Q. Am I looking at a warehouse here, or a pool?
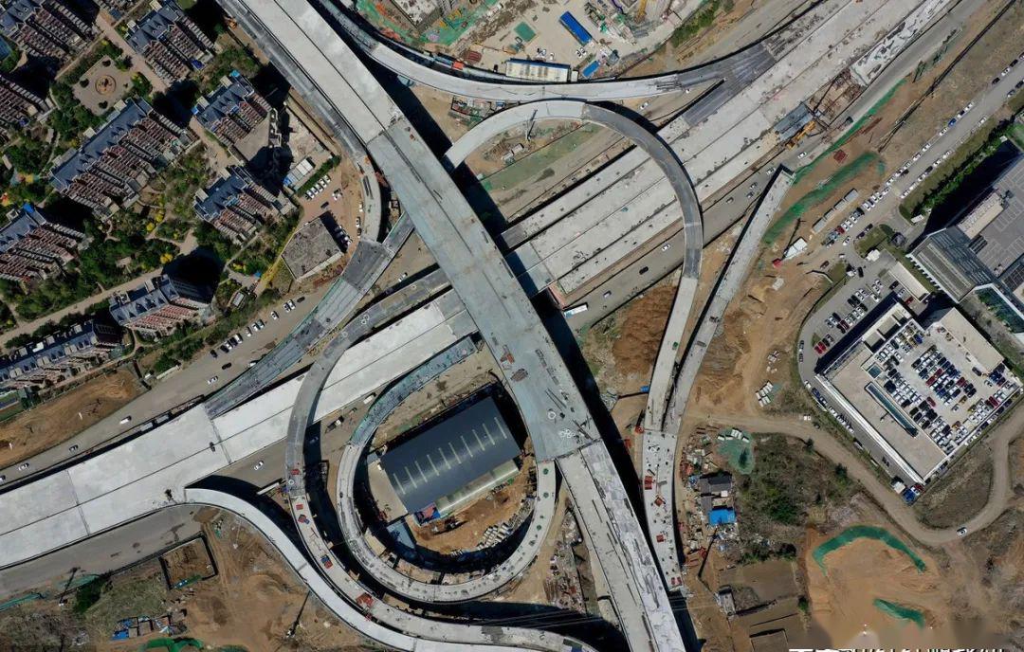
warehouse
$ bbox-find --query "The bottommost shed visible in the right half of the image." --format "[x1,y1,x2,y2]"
[716,587,737,621]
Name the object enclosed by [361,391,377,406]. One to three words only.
vehicle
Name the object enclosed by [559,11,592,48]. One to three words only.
shed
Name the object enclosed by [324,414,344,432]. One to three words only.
vehicle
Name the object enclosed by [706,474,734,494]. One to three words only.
house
